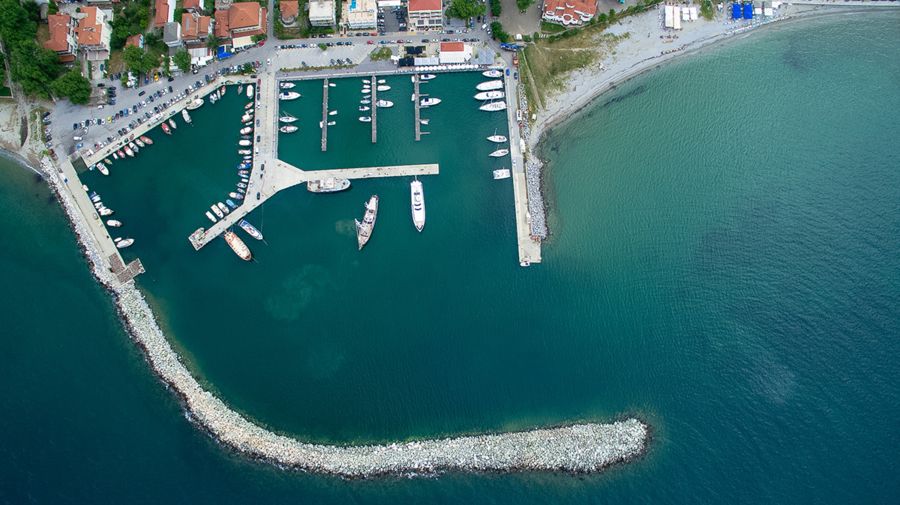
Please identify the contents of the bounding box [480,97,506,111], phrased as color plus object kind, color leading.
white boat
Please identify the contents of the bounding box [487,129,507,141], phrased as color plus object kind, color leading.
white boat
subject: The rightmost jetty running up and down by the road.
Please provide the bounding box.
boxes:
[503,66,541,264]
